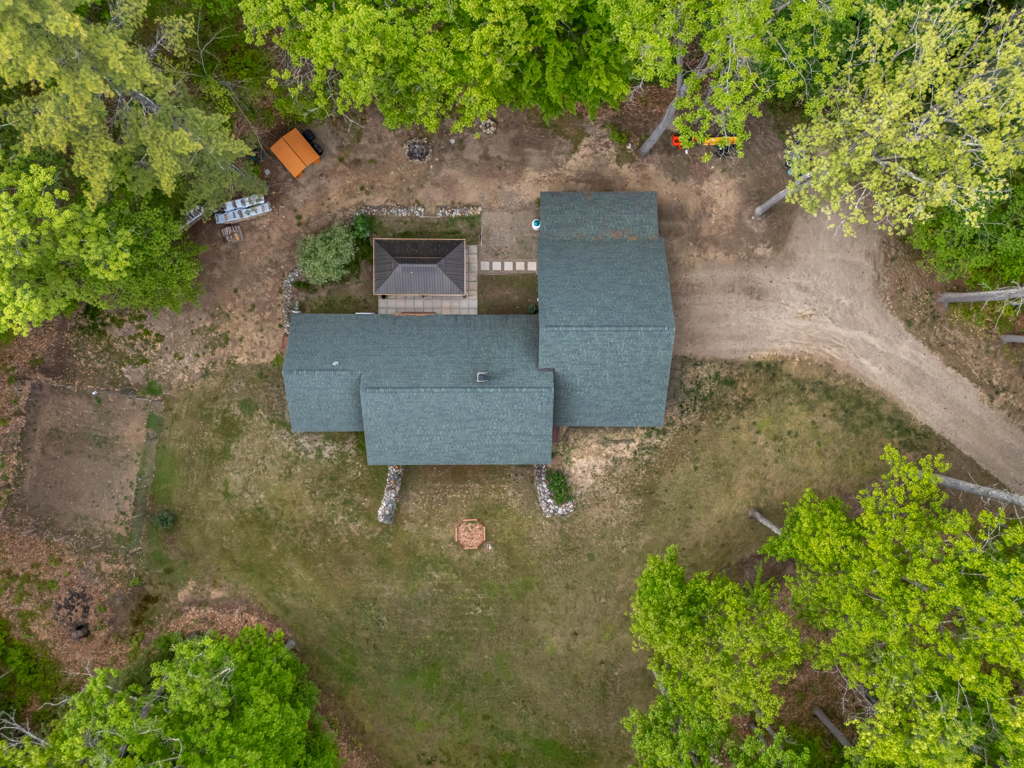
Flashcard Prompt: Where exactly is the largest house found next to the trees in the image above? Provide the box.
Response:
[282,192,675,465]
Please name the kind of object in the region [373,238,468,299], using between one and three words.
gazebo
